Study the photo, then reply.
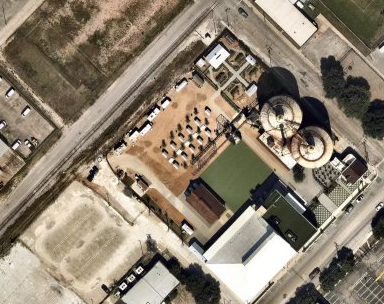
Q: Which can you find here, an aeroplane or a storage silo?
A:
storage silo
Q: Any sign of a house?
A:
Yes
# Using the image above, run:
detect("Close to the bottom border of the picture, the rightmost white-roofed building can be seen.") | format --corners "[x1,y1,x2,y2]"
[204,206,298,304]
